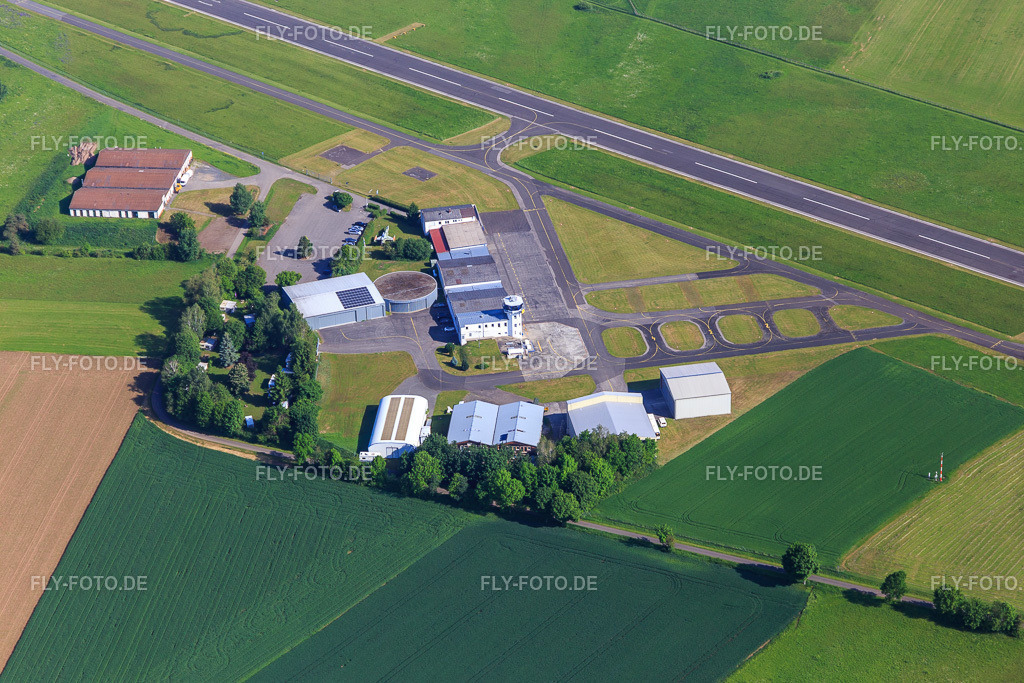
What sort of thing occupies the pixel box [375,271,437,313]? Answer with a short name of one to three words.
hangar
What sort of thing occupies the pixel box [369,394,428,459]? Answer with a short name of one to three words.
hangar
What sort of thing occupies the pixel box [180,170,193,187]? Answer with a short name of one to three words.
vehicle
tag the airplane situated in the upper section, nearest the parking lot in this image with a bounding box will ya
[370,225,398,243]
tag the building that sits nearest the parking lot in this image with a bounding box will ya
[285,272,386,329]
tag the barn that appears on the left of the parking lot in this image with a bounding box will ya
[69,148,190,218]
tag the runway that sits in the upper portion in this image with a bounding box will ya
[161,0,1024,289]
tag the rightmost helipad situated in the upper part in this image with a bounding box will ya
[403,166,436,181]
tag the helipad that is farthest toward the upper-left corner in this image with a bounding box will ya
[321,145,367,165]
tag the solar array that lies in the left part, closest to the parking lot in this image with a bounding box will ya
[336,287,373,309]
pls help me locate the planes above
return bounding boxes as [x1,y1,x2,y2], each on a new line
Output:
[370,225,398,243]
[441,406,453,414]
